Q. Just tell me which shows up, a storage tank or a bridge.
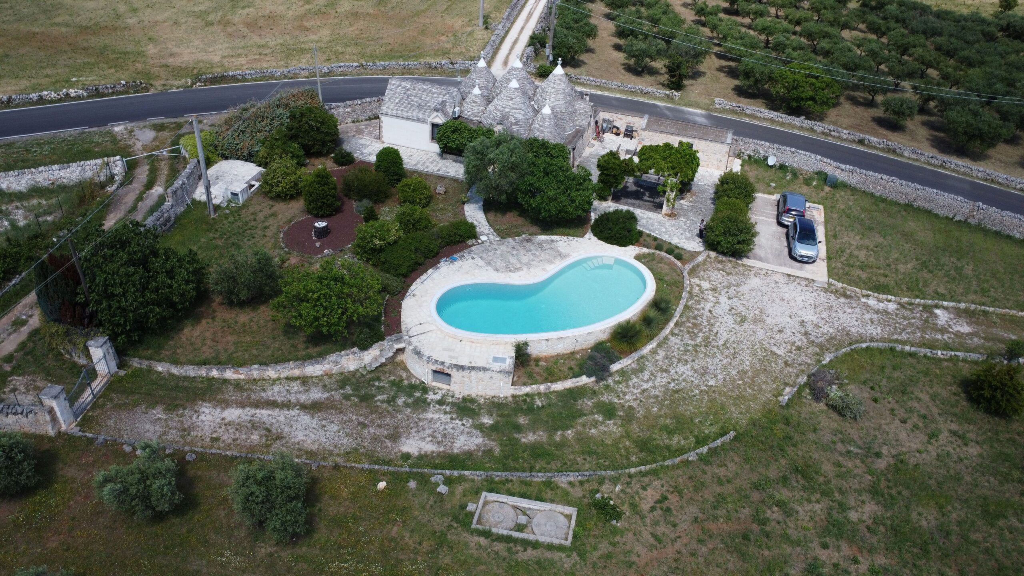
storage tank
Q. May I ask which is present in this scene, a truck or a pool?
pool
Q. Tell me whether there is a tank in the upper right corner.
No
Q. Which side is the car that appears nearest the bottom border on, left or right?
right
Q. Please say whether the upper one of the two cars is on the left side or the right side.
right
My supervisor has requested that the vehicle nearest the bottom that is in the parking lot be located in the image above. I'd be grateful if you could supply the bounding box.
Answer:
[781,215,819,256]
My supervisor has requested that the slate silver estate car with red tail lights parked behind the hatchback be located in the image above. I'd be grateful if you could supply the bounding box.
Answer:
[773,193,806,222]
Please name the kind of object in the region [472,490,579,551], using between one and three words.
storage tank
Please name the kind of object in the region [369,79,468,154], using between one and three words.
house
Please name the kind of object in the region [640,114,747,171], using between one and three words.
shed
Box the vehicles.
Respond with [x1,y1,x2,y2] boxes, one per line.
[773,193,806,222]
[781,215,819,256]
